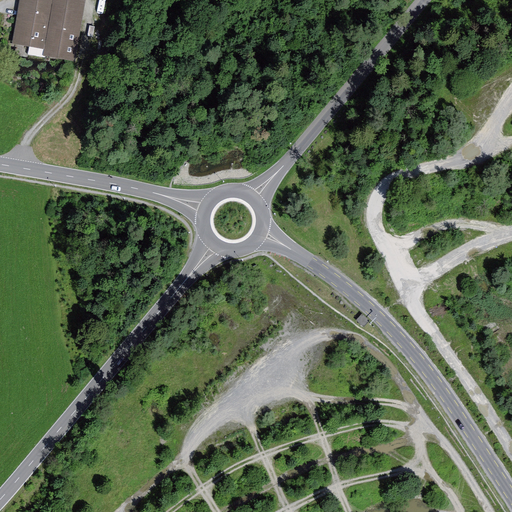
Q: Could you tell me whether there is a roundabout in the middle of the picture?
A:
Yes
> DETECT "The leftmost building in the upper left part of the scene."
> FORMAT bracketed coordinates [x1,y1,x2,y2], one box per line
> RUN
[13,0,84,60]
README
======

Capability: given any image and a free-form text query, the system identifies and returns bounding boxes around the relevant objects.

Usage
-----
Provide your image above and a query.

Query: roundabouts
[196,182,270,258]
